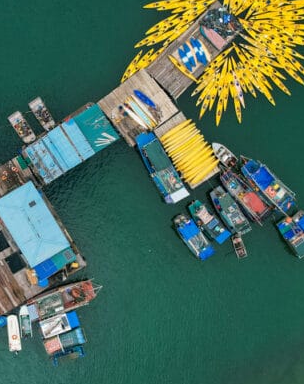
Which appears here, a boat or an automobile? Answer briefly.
boat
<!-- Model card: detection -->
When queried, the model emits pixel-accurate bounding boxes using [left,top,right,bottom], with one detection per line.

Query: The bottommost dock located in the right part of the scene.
[153,113,220,189]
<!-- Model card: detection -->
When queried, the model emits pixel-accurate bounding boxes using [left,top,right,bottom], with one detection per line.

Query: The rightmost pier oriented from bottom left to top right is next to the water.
[145,0,246,98]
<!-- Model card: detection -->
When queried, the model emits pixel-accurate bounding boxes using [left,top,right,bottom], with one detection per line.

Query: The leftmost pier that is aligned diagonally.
[22,104,122,189]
